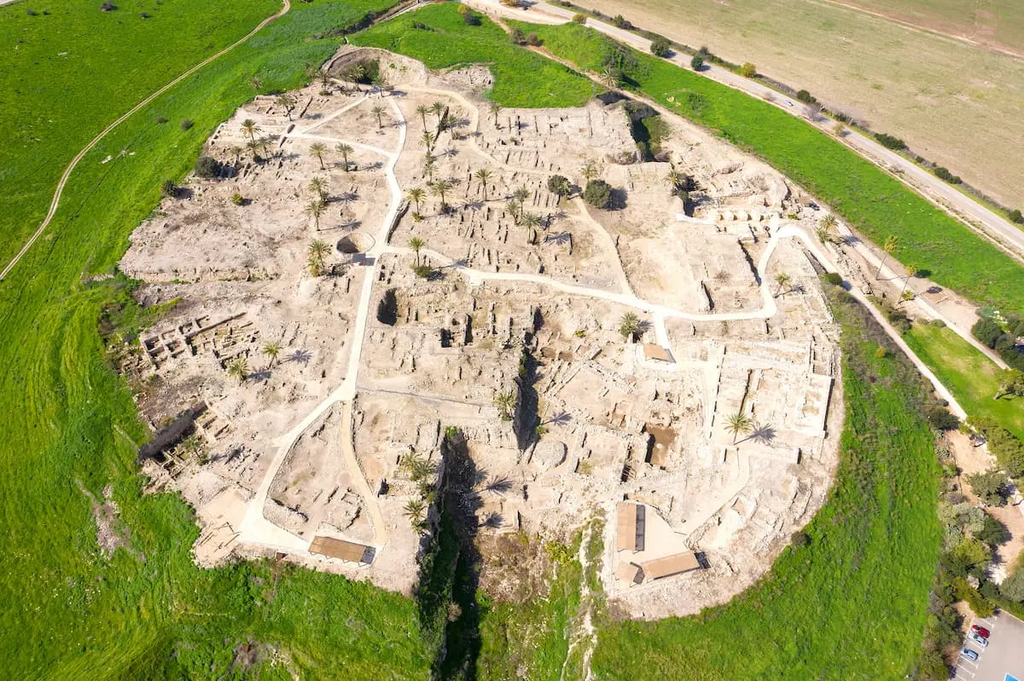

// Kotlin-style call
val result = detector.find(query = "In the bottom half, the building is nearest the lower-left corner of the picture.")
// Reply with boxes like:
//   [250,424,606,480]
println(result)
[153,447,192,478]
